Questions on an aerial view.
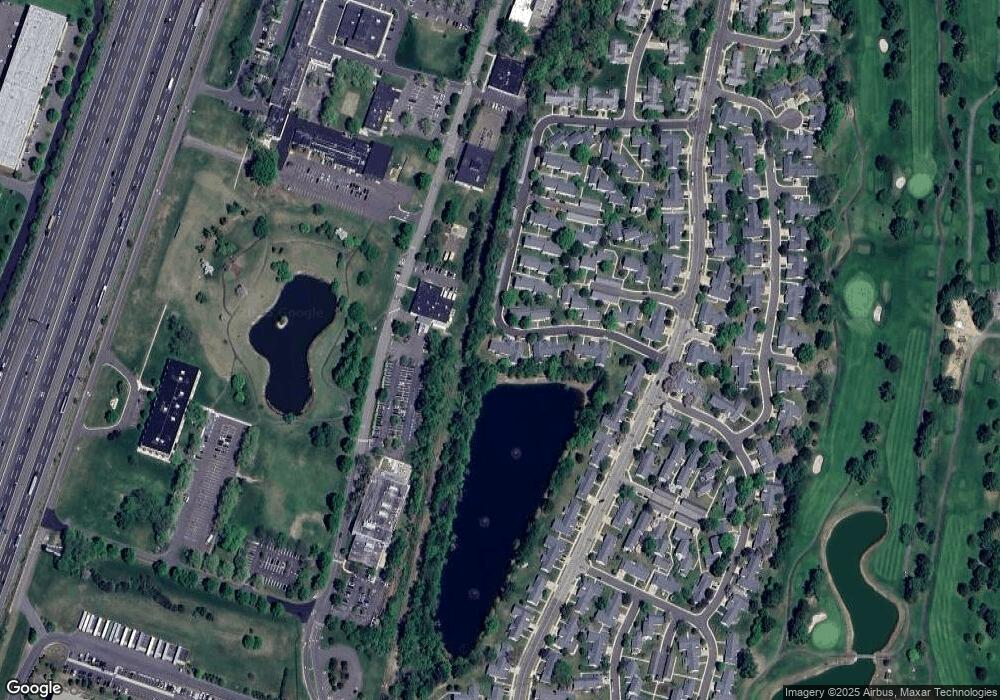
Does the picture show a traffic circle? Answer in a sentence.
No, no traffic circle is visible in the view.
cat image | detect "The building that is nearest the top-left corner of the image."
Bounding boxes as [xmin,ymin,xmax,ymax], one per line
[0,5,68,170]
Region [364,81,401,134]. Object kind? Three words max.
building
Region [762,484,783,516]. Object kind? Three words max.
house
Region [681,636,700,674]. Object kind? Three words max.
house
